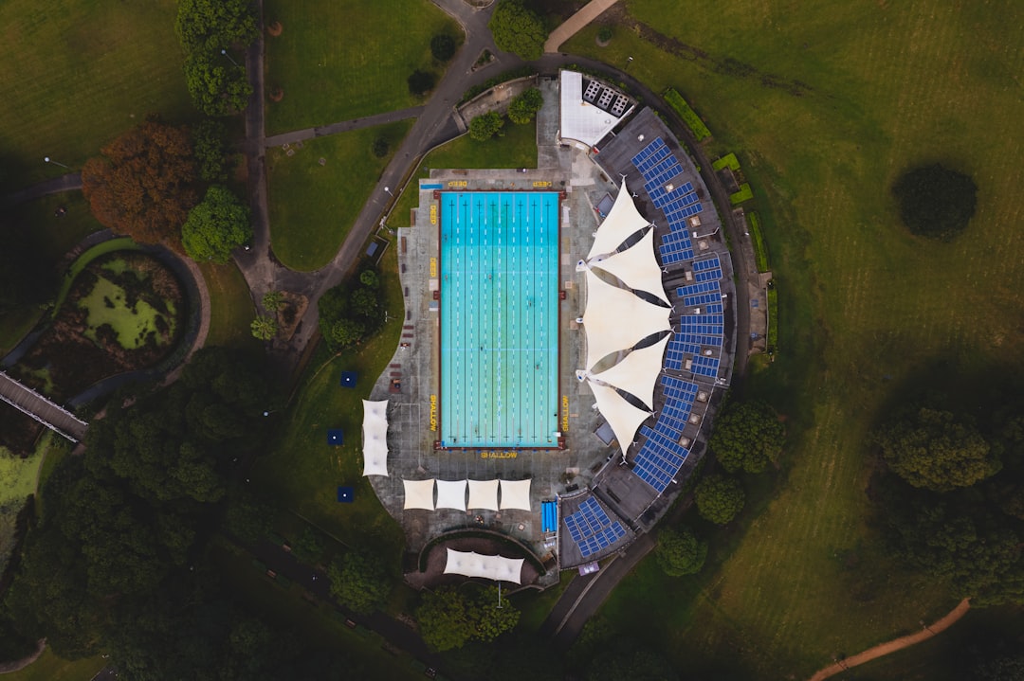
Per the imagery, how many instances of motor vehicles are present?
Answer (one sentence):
There are no motor vehicles in the image.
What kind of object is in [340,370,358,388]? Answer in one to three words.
umbrella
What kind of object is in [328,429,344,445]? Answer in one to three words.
umbrella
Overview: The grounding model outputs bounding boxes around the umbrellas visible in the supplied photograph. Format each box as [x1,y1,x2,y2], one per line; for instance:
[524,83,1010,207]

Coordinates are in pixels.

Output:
[328,429,344,445]
[340,370,358,388]
[337,486,354,503]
